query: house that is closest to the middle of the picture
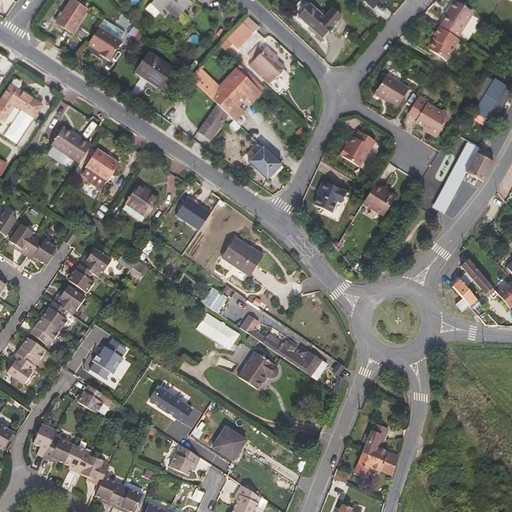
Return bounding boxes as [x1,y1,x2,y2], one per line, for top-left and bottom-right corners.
[222,236,263,276]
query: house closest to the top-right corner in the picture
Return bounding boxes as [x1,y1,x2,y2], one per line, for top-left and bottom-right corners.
[440,2,474,38]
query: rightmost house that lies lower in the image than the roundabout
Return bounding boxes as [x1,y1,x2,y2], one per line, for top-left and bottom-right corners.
[354,424,398,482]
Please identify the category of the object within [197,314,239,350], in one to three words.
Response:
barn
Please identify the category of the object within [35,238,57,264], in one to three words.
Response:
house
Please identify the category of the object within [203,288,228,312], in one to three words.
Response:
greenhouse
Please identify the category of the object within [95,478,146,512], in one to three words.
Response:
house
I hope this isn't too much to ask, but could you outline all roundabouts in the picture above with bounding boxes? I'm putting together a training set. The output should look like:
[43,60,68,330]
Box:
[354,278,440,364]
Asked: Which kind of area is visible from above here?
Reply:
residential area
